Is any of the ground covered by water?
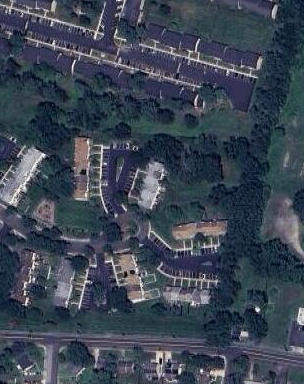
No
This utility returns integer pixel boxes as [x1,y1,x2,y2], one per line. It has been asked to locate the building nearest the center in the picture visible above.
[140,161,167,209]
